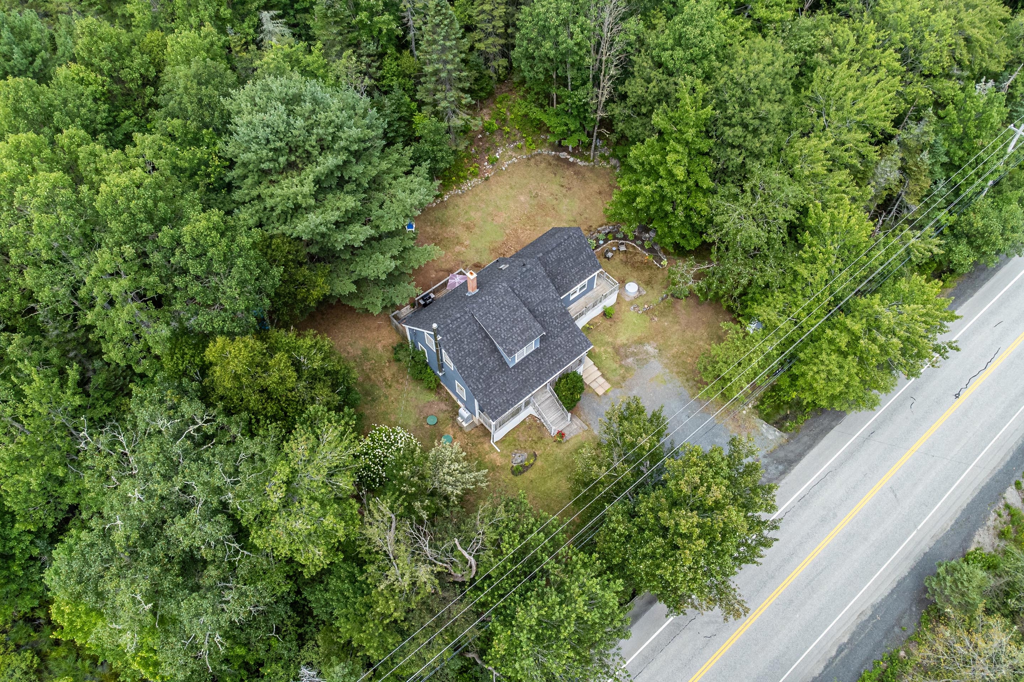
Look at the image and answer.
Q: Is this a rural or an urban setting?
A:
rural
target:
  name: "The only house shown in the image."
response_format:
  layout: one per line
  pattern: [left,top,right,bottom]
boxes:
[387,228,620,454]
